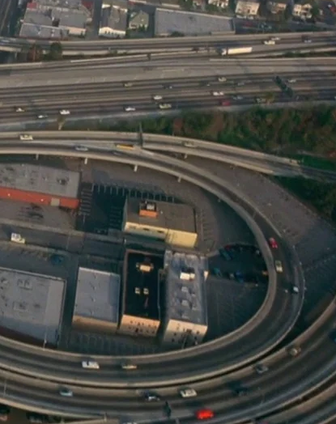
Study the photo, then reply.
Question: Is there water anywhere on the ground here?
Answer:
No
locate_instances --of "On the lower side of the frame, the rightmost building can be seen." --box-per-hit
[160,251,214,345]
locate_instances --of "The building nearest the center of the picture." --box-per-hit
[121,194,198,247]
